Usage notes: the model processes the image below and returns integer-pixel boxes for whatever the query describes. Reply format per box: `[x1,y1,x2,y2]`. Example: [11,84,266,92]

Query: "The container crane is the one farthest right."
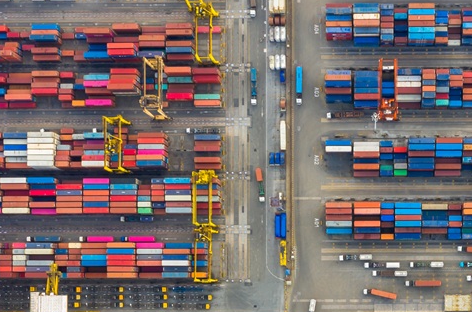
[374,56,402,120]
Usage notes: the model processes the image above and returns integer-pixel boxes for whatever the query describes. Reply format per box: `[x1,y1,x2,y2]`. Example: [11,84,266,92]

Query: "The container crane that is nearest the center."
[190,168,221,227]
